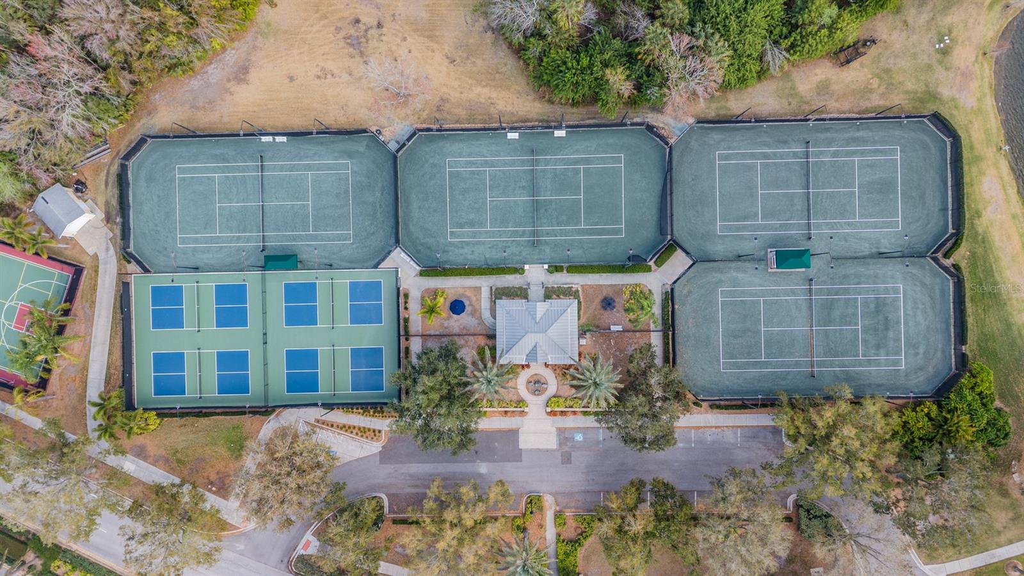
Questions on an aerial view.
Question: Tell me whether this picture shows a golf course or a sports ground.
sports ground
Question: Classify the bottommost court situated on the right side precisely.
tennis court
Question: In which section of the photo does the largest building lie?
center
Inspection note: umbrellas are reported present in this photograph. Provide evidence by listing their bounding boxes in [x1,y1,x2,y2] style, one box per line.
[601,296,615,310]
[449,299,465,315]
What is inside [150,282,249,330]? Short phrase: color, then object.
blue sports court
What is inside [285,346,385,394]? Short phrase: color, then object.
blue sports court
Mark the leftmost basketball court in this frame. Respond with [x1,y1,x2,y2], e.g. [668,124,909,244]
[0,242,86,398]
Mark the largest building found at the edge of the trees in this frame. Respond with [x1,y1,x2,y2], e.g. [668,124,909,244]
[496,299,579,365]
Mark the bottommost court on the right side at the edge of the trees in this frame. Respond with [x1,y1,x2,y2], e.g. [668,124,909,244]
[672,255,955,399]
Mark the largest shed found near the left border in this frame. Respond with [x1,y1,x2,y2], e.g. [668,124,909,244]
[34,184,95,239]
